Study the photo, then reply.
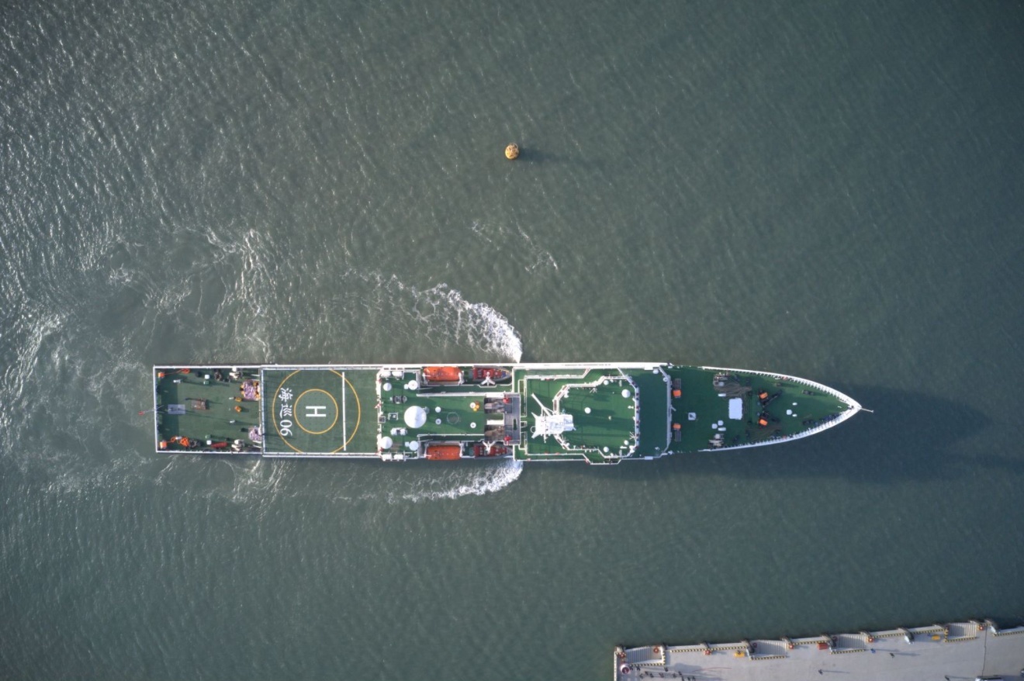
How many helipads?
1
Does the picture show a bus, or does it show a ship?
ship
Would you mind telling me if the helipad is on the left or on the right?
left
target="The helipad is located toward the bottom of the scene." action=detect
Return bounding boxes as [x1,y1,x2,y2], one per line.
[260,365,379,457]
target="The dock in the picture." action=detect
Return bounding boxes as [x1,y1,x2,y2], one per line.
[613,615,1024,681]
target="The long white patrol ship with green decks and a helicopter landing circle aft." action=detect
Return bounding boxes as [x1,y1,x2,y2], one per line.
[142,360,874,464]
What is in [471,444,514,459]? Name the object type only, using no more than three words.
boat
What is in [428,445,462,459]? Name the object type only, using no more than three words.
boat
